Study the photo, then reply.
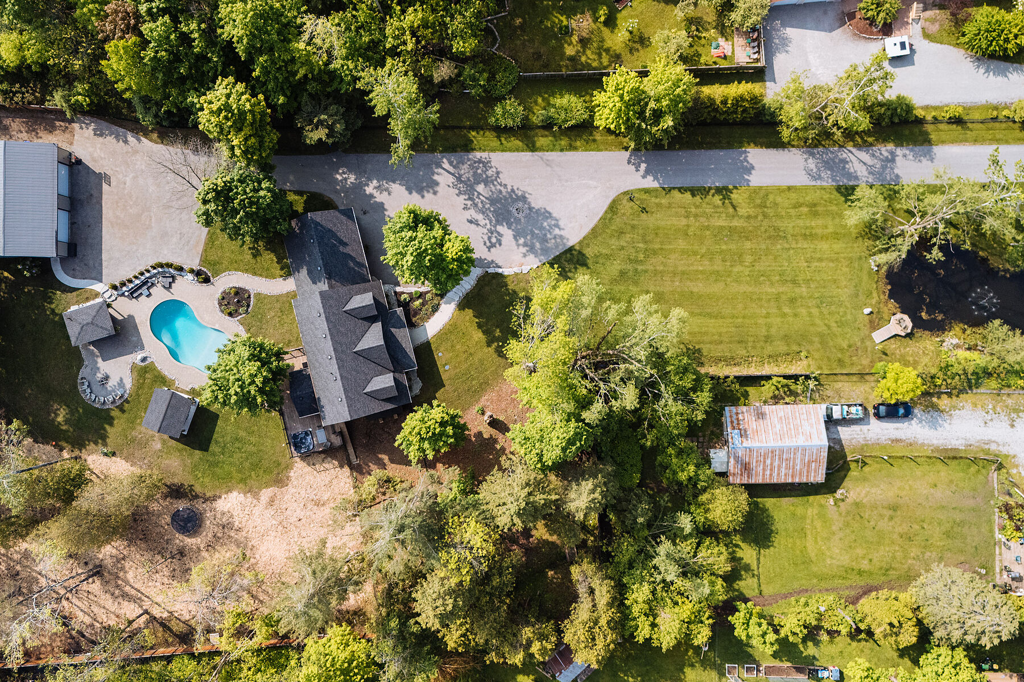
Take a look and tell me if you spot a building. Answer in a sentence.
Yes, a building appears in the view.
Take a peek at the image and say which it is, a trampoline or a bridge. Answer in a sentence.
The image shows a trampoline.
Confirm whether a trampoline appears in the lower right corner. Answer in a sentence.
No, I can find no trampoline in the lower right corner.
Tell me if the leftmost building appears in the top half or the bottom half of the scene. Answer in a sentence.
The top half of the photo is where the leftmost building is.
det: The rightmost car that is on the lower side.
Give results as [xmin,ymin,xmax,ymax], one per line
[873,402,913,421]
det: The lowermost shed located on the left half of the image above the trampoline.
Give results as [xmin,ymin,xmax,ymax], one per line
[143,387,200,438]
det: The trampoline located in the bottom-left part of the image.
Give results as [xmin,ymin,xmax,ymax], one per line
[171,506,203,536]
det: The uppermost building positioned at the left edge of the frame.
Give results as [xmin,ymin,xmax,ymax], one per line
[0,139,71,258]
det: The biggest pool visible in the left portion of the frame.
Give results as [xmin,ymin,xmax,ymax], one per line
[147,297,235,376]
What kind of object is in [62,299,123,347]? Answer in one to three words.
building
